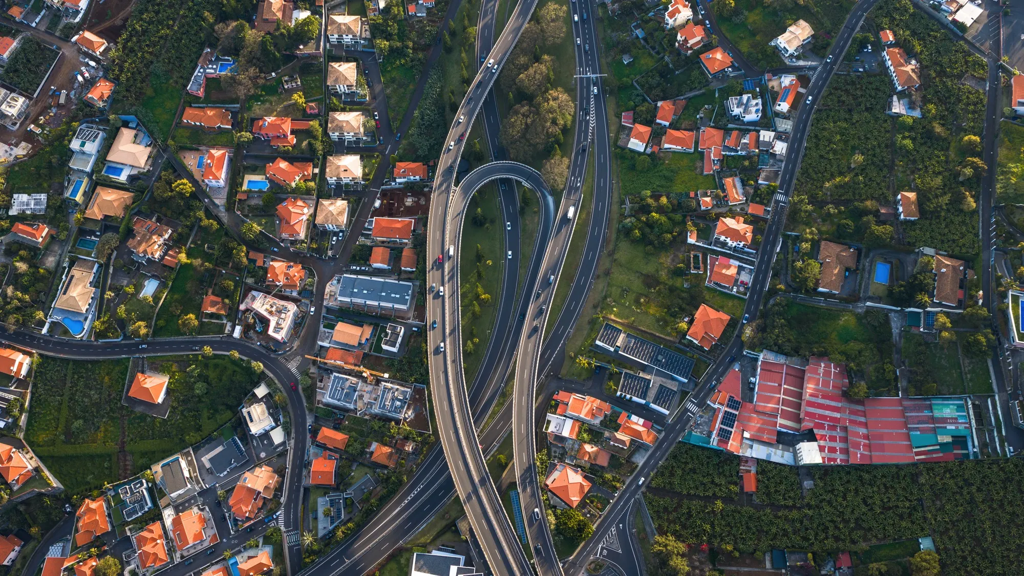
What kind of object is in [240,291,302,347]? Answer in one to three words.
building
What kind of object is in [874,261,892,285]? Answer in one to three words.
swimming pool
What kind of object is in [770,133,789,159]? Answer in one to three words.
shed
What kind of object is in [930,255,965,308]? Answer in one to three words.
house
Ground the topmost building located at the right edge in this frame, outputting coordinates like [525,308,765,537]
[929,0,983,29]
